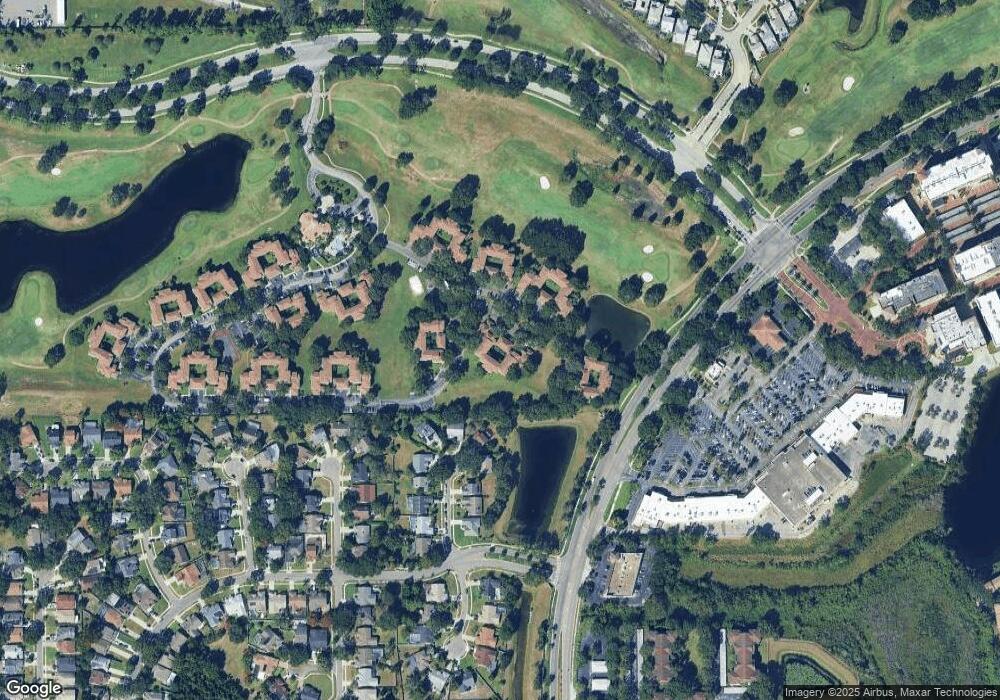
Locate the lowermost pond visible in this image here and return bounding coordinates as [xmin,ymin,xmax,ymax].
[510,425,577,534]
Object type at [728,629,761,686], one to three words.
building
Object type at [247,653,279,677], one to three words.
house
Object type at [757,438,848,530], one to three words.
building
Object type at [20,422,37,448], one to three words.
house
